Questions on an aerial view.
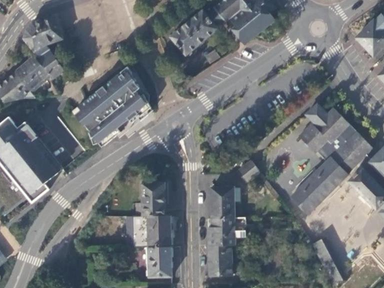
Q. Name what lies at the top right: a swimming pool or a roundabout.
roundabout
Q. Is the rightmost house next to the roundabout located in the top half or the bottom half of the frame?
top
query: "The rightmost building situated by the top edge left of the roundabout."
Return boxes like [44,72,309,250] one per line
[216,0,274,44]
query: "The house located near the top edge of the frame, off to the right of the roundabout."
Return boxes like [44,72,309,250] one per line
[354,13,384,57]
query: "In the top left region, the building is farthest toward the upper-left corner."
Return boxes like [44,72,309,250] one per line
[24,18,64,62]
